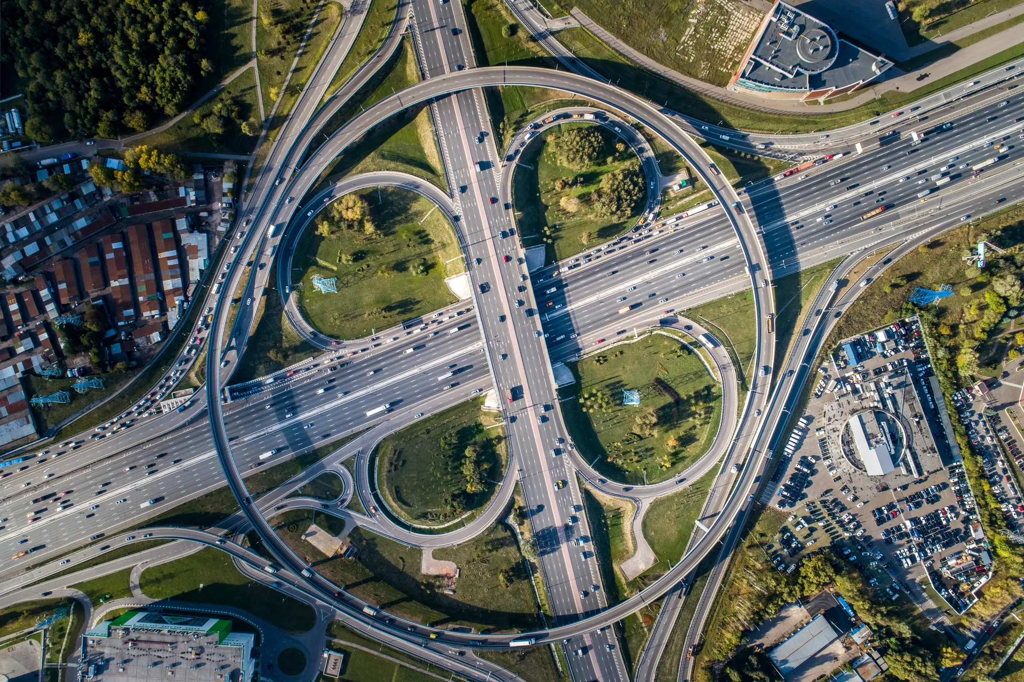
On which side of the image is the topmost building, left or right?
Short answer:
right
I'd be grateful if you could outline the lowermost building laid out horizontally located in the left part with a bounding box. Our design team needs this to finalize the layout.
[77,605,254,682]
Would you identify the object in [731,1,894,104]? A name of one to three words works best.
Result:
building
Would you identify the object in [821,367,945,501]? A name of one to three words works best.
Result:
building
